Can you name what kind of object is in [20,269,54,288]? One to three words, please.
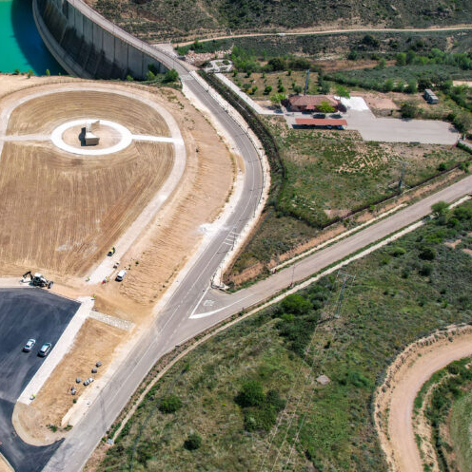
work vehicle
